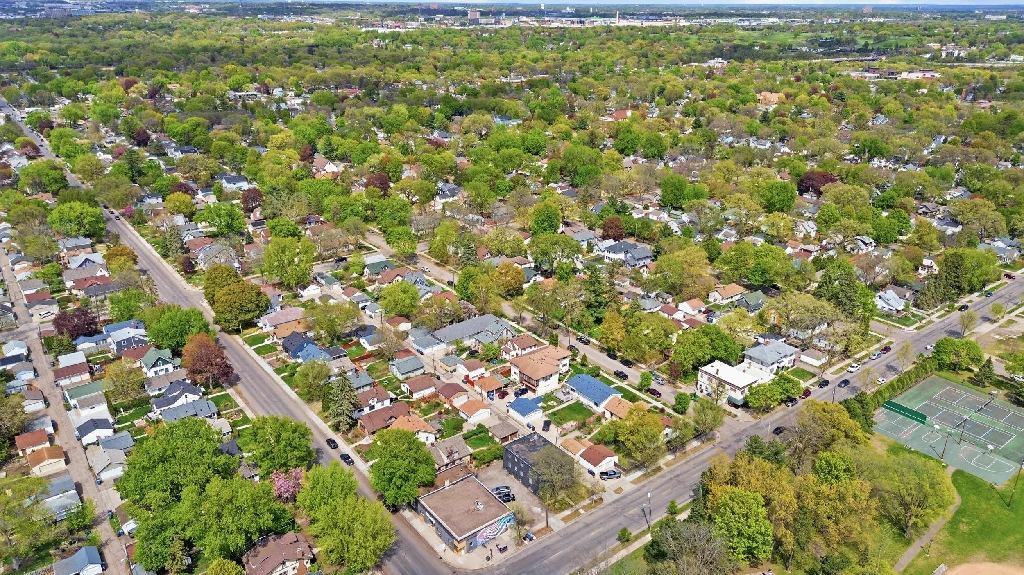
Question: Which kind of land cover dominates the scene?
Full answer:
Most of the picture is covered by trees.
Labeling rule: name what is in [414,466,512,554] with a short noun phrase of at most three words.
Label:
building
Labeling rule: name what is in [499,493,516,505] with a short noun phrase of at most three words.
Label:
vehicle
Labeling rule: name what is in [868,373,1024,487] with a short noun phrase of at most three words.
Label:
sports court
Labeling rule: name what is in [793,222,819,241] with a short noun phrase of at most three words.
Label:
house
